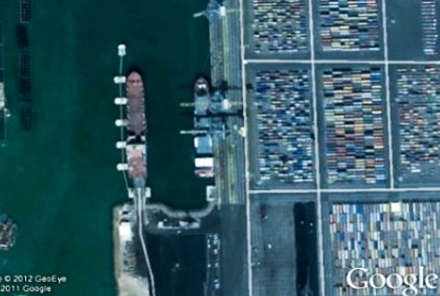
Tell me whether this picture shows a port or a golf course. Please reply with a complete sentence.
It's a port.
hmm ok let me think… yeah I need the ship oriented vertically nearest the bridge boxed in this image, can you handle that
[125,69,145,180]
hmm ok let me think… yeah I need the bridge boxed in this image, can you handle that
[135,180,153,296]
